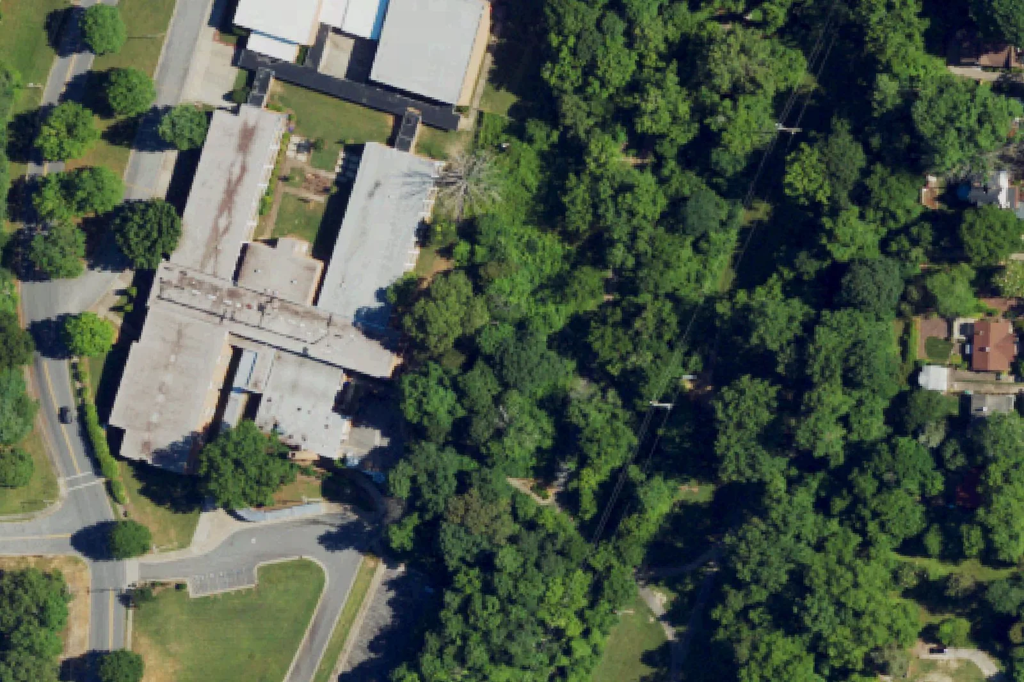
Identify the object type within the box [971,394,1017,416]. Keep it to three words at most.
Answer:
house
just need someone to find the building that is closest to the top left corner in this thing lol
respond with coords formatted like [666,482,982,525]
[234,0,322,62]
